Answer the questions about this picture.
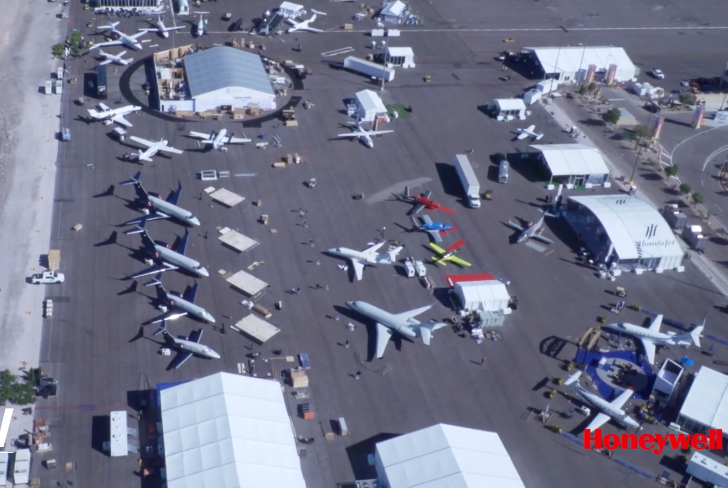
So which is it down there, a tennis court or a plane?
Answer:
plane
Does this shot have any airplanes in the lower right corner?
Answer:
Yes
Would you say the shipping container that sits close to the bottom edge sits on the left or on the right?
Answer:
right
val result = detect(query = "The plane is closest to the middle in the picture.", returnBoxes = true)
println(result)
[325,239,410,283]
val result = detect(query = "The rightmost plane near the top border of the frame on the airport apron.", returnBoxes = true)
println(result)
[287,6,327,33]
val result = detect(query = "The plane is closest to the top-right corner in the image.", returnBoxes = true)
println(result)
[515,113,557,134]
